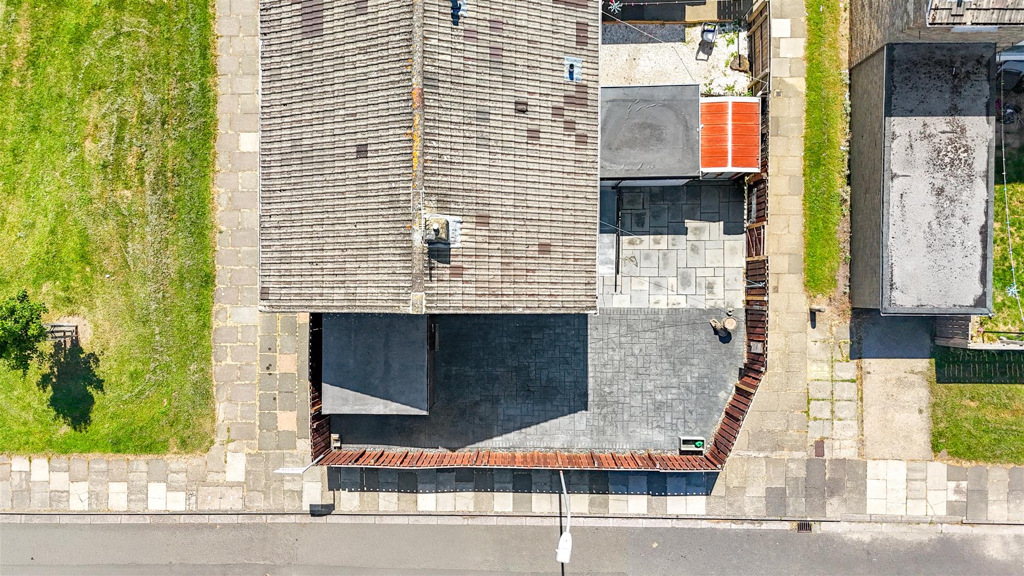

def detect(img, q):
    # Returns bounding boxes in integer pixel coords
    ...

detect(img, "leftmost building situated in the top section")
[257,0,602,317]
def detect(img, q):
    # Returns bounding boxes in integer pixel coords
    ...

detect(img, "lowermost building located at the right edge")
[851,43,997,319]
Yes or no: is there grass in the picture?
Yes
